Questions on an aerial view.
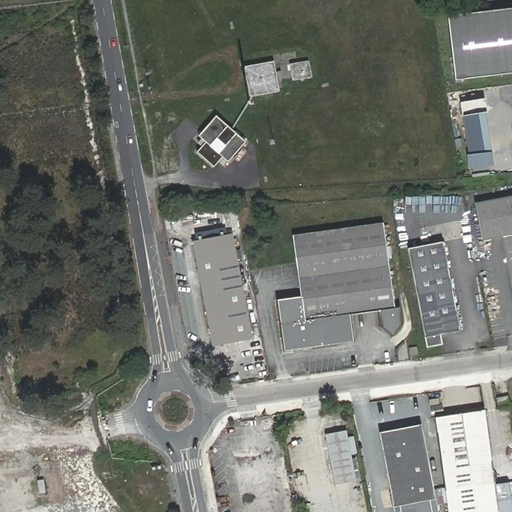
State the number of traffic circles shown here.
1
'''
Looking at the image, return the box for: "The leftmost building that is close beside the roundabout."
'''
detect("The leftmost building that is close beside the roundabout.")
[193,234,252,346]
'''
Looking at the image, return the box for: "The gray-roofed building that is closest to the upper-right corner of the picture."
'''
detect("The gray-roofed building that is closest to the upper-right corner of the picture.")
[448,8,512,81]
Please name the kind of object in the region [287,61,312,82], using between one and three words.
building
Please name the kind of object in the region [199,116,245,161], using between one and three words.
building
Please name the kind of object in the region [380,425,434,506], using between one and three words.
shed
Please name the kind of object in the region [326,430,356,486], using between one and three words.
shed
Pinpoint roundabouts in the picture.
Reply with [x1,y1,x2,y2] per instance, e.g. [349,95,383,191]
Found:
[118,364,233,468]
